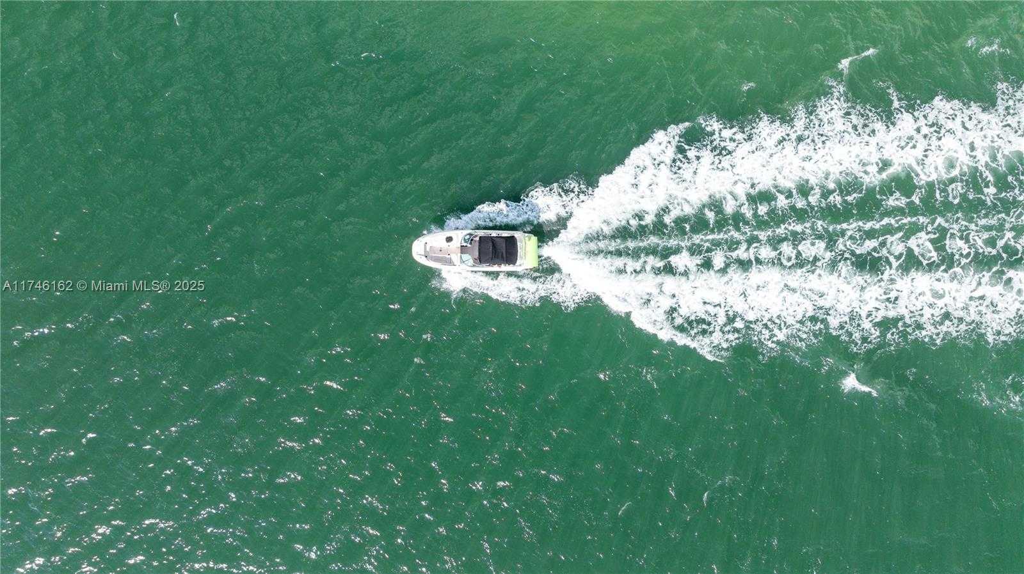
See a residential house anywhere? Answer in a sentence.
No, no residential house is visible in the view.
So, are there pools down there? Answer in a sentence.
No, the picture doesn't show any pool.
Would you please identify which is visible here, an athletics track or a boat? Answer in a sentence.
The one in the frame is a boat.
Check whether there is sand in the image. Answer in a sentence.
No, no sand is visible.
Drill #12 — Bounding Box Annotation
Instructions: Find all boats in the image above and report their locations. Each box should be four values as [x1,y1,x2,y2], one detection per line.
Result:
[412,230,538,272]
